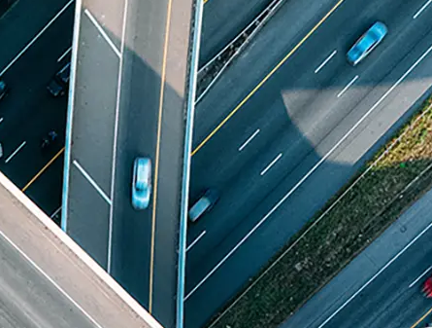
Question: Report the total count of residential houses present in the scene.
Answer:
zero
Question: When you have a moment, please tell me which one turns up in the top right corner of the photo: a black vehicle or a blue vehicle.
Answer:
blue vehicle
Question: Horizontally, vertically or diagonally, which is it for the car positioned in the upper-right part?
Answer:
diagonally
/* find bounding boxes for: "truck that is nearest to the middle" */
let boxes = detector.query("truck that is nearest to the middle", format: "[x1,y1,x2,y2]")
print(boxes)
[186,176,229,226]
